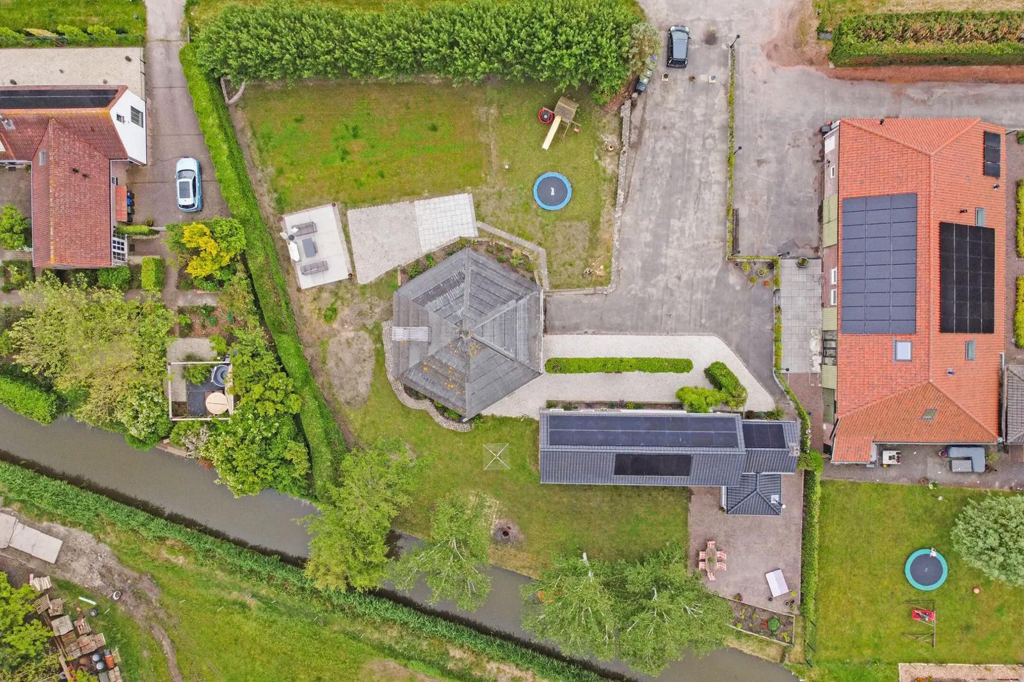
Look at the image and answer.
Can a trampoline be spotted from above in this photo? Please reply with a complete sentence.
Yes, a trampoline appears in the view.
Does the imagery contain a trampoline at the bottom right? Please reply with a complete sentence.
Yes, at the bottom right there is a trampoline.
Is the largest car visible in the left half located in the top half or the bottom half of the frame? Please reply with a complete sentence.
The largest car visible in the left half sits in the top half of the picture.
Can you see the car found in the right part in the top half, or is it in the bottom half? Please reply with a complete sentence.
The car found in the right part sits in the top half of the picture.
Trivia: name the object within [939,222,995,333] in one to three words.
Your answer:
solar array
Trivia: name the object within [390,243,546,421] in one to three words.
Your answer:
barn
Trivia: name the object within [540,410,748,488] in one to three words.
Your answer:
barn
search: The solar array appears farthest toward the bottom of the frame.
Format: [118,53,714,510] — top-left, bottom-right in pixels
[614,454,692,476]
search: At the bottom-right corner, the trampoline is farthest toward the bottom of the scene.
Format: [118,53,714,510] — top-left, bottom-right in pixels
[904,547,948,591]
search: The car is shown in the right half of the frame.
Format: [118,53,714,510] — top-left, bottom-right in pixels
[668,25,693,69]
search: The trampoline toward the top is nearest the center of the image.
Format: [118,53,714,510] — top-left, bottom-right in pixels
[533,171,572,210]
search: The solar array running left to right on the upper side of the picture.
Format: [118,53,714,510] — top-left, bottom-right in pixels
[0,88,120,109]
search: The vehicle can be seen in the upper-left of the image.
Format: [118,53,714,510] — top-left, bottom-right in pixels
[174,159,204,211]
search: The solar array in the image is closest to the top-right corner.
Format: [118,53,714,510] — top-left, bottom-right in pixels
[983,131,1001,176]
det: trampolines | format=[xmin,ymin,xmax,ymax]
[533,171,572,210]
[904,547,948,591]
